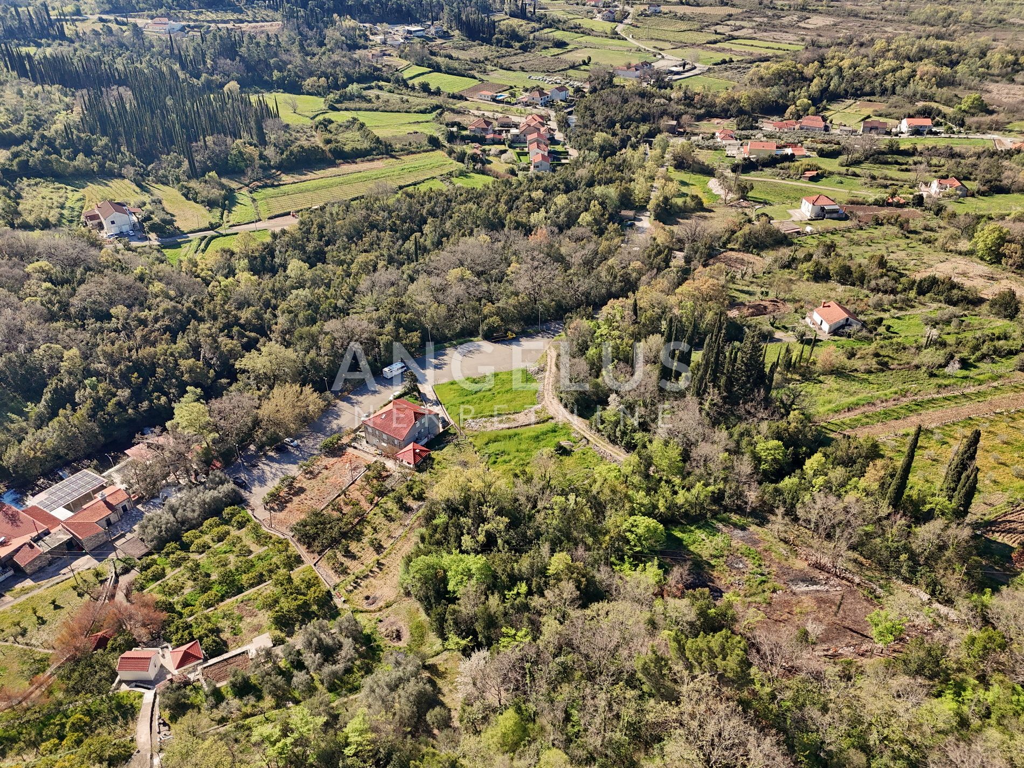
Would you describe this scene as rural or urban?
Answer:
rural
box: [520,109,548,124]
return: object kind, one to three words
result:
house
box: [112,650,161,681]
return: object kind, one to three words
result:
shed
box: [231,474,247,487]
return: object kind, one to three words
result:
vehicle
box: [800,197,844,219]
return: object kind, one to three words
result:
house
